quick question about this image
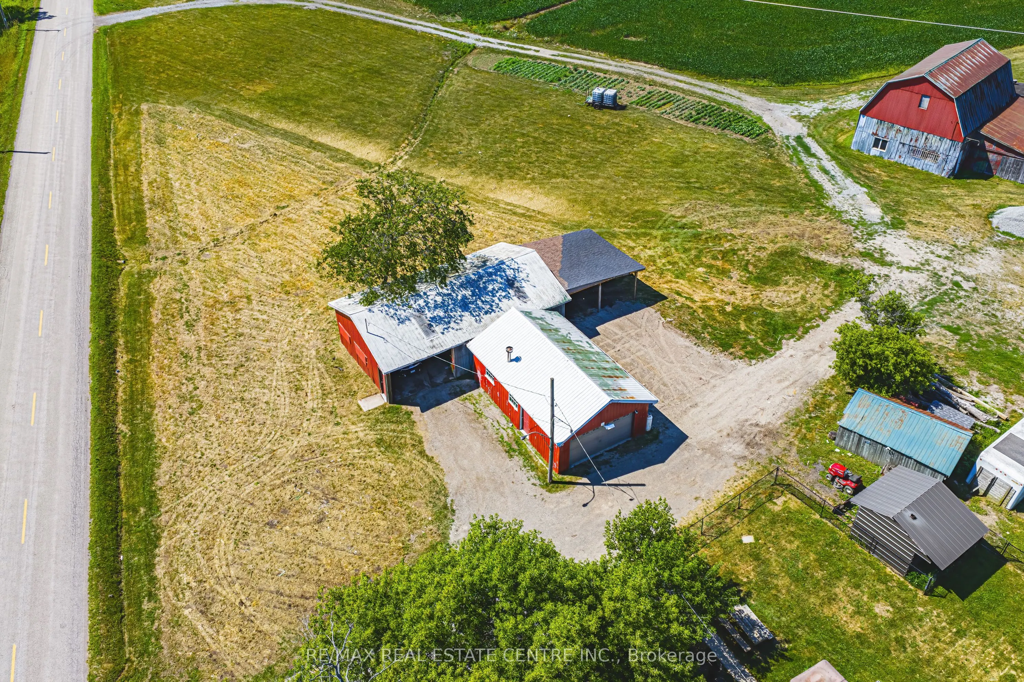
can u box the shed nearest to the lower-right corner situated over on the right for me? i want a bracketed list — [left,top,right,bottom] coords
[851,465,989,593]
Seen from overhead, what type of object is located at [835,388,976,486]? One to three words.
shed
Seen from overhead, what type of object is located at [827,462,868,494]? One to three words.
work vehicle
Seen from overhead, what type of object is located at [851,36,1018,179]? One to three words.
barn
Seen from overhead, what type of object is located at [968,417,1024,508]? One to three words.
trailer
